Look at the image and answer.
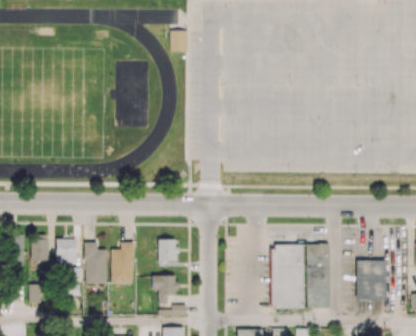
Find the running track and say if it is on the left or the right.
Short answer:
left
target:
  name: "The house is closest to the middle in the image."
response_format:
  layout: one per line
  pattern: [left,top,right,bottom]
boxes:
[158,238,179,266]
